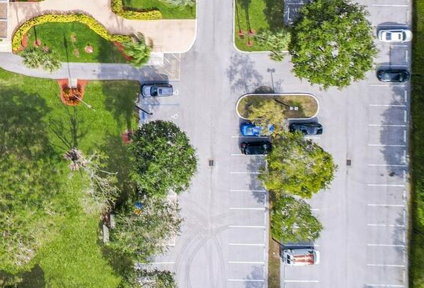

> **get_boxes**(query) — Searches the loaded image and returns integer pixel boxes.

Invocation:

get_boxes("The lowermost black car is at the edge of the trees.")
[238,139,272,155]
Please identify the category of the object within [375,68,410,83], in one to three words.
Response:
car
